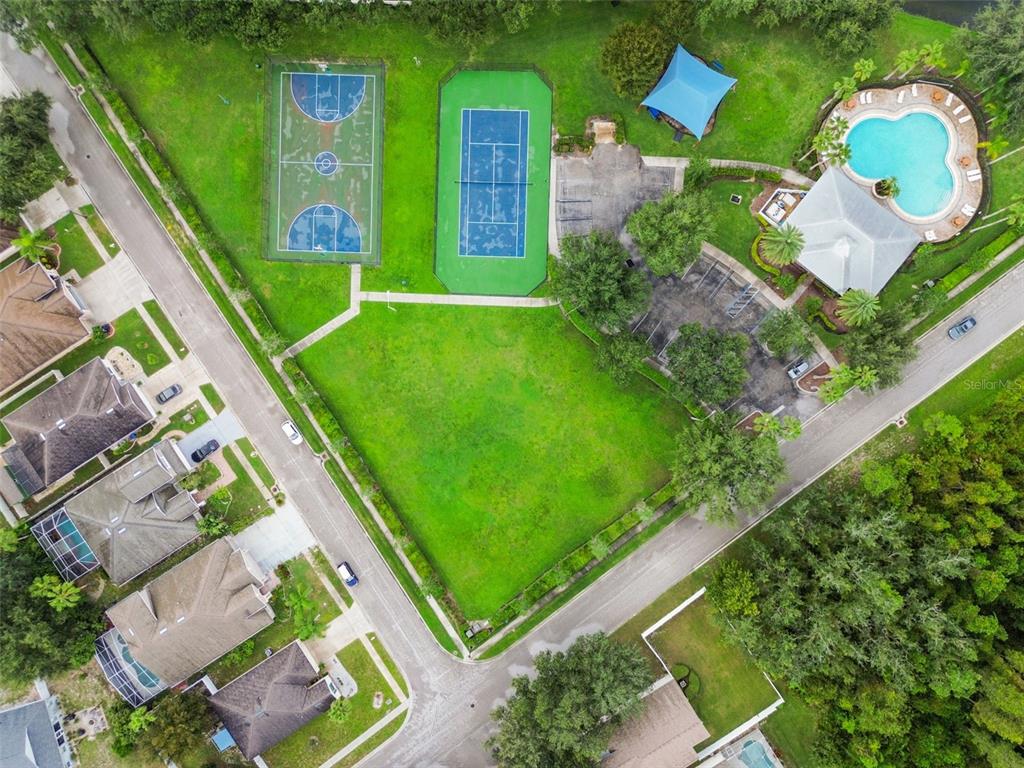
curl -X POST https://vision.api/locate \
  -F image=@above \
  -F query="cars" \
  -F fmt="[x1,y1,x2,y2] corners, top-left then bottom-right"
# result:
[784,360,810,381]
[336,558,361,588]
[191,439,222,463]
[156,383,186,405]
[946,316,977,340]
[282,419,306,448]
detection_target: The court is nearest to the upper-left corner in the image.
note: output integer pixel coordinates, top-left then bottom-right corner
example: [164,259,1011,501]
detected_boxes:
[267,63,384,264]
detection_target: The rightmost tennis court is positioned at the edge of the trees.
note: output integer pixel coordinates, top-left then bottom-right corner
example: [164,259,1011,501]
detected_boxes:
[434,70,552,294]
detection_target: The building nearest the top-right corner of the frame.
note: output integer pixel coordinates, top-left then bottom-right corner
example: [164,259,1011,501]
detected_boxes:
[783,166,921,297]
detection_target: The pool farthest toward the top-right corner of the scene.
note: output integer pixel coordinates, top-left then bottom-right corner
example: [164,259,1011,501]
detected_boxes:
[818,83,983,243]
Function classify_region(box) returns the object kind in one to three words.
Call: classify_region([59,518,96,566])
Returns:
swimming pool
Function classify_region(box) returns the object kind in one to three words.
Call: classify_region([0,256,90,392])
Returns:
house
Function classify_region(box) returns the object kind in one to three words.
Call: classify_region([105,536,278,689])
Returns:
house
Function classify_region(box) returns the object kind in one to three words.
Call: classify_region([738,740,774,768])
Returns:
swimming pool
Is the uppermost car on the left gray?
Yes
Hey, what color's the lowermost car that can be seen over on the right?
white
